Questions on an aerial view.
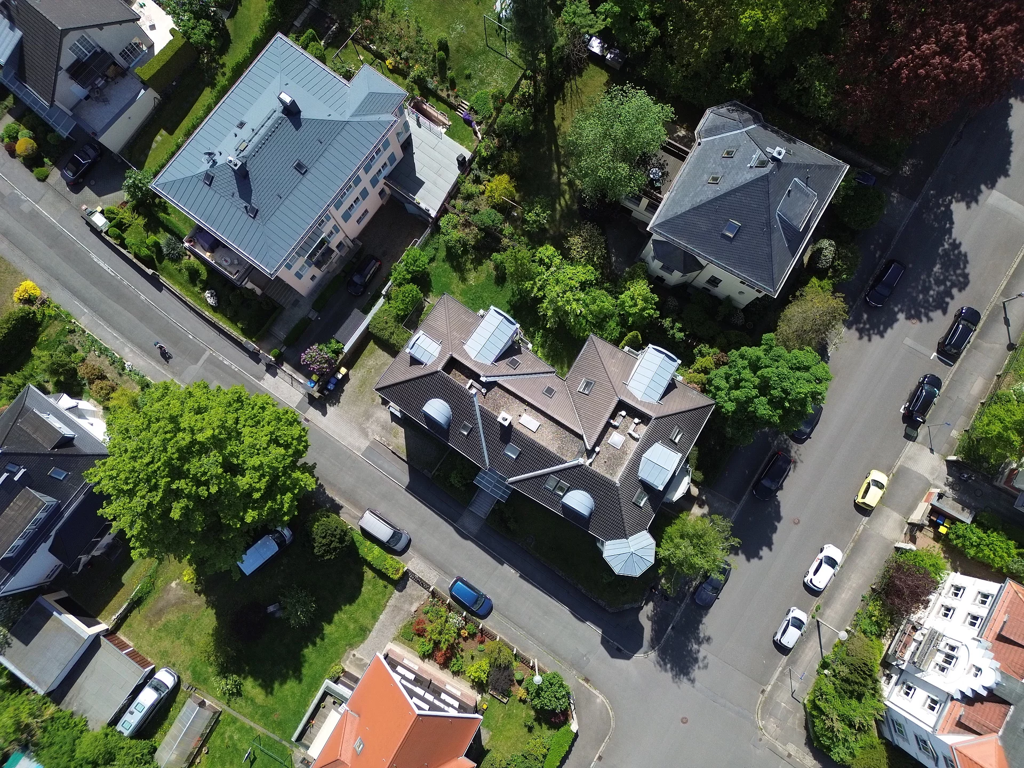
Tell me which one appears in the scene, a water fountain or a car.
car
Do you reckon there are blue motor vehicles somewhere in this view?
Yes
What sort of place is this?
residential area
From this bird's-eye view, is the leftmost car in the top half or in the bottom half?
top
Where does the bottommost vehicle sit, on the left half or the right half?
left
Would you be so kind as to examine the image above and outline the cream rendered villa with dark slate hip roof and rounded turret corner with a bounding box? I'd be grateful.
[618,100,851,306]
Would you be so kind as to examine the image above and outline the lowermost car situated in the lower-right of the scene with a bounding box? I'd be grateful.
[773,605,808,651]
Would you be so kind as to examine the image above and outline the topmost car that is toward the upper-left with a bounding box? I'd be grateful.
[60,141,104,188]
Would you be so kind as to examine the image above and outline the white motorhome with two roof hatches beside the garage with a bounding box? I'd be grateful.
[114,664,185,735]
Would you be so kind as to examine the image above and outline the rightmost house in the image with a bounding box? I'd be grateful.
[996,460,1024,510]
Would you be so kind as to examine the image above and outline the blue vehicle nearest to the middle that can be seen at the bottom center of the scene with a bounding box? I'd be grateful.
[447,577,494,622]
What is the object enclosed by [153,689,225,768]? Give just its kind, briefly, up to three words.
greenhouse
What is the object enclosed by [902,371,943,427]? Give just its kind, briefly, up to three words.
car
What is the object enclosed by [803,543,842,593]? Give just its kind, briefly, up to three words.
car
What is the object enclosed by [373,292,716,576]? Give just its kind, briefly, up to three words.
house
